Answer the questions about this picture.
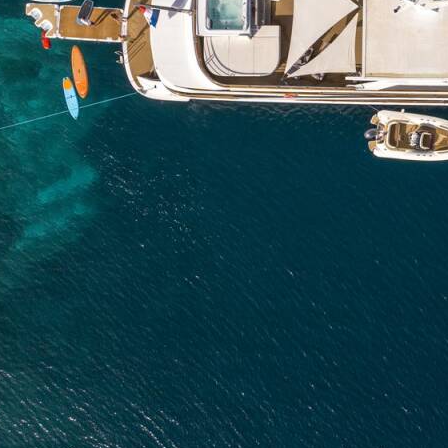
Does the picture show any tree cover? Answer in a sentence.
No, there is no tree cover in the image.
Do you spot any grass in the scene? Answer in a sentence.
No, the picture contains no grass.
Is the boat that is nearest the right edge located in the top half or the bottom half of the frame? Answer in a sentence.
You can find the boat that is nearest the right edge in the top half.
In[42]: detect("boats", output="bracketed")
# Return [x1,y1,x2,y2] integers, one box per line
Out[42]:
[364,110,448,161]
[109,0,448,105]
